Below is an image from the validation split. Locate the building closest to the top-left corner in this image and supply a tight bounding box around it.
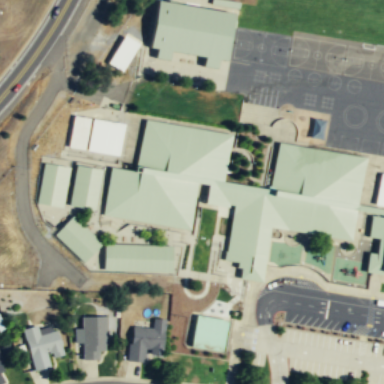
[110,33,142,72]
